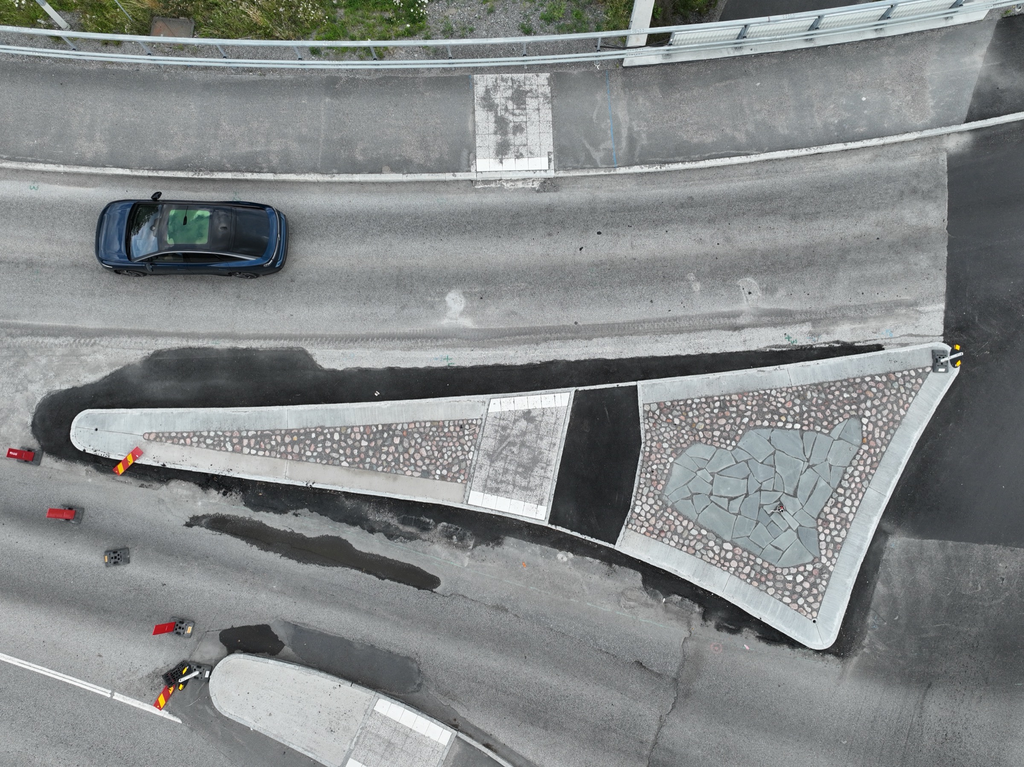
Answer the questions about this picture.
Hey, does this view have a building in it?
No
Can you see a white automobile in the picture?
No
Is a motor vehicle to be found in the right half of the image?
No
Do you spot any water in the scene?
No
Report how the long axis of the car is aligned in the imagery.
from left to right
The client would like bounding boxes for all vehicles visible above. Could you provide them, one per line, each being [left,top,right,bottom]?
[93,189,290,279]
